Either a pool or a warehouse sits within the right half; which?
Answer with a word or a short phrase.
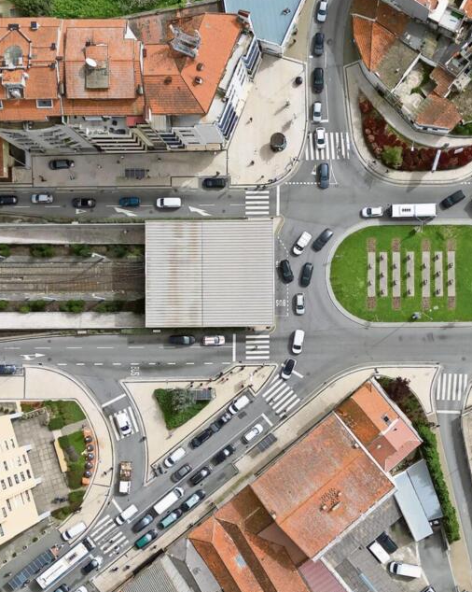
warehouse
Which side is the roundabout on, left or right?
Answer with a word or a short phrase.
right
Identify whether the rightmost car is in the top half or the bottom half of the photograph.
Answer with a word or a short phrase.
top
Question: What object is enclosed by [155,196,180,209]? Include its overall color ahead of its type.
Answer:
white vehicle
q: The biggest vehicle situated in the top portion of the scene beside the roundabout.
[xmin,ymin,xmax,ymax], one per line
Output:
[388,205,437,221]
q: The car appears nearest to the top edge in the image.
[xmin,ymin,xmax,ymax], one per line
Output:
[316,0,328,23]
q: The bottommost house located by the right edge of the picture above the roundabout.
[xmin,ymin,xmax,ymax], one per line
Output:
[414,93,462,135]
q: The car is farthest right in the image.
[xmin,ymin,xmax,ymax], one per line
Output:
[440,189,465,209]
